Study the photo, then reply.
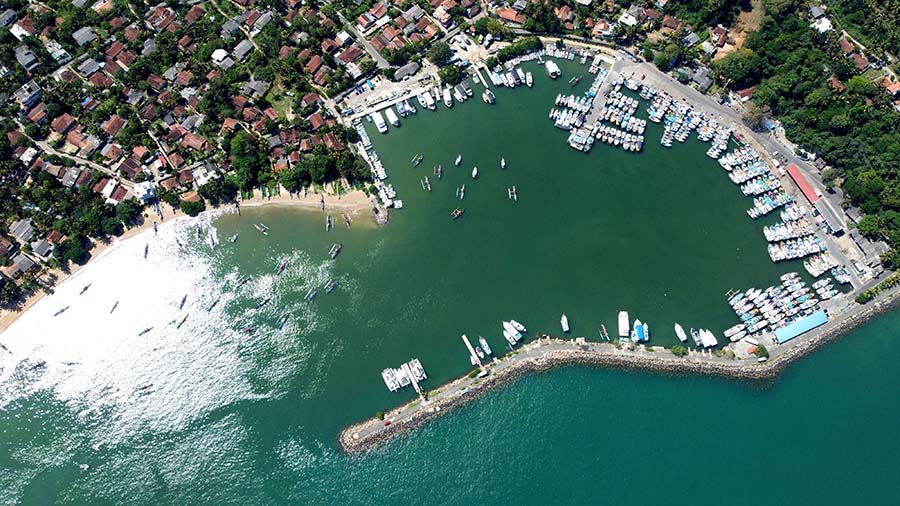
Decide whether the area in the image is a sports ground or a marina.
marina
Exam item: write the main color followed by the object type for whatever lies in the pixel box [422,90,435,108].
white boat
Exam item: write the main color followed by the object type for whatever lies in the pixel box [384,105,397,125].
white boat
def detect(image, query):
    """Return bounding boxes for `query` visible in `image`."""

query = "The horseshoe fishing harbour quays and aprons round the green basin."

[597,64,870,366]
